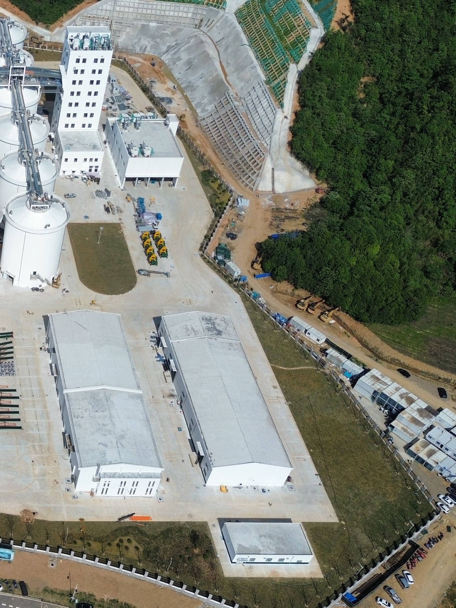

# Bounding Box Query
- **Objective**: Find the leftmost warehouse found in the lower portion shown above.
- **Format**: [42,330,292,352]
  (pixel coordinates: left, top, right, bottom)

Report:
[45,309,166,496]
